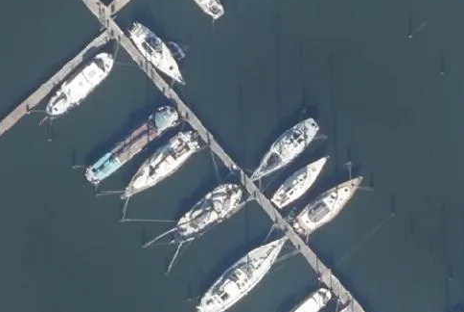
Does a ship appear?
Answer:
Yes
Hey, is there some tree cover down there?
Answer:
No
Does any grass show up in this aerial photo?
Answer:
No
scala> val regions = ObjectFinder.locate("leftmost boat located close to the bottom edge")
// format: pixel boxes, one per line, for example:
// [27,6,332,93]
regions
[197,237,289,312]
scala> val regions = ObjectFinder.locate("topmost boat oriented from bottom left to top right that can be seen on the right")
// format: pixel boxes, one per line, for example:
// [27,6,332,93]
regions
[252,118,329,179]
